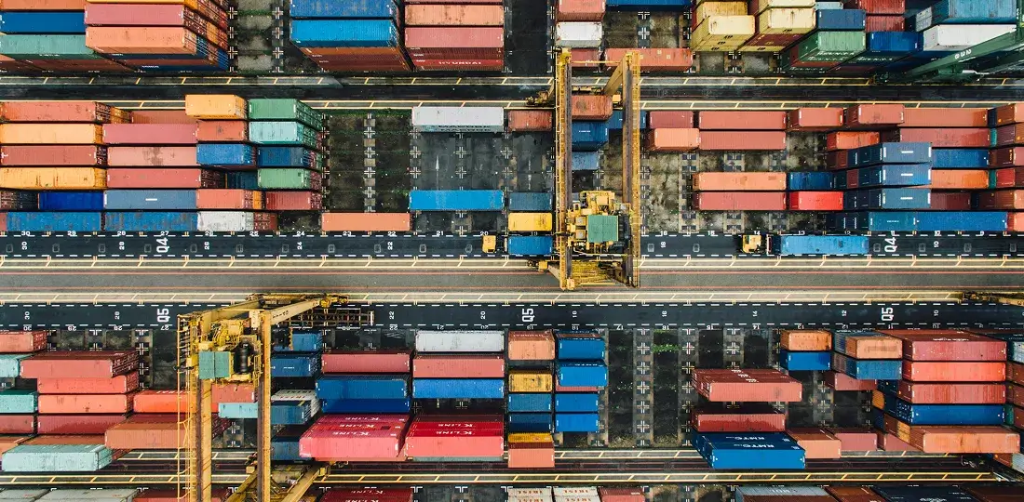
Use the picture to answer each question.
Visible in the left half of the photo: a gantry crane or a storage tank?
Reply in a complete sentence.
Looking in the left half of the photo, you will find a gantry crane.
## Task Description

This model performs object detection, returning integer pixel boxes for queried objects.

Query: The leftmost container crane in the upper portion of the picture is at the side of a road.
[520,49,643,289]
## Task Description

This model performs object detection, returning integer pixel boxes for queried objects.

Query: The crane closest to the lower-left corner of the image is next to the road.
[175,294,340,502]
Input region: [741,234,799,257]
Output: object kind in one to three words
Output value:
truck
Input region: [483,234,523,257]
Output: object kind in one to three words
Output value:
truck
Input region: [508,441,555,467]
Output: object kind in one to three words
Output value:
shipping container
